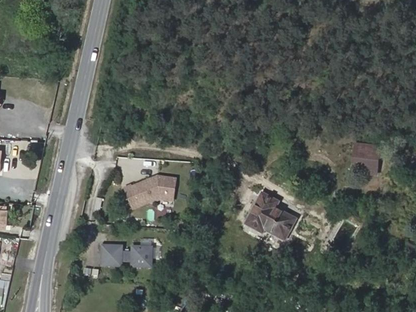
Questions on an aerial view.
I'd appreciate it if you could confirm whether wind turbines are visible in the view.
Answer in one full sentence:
No, I can't see a single wind turbine in this photo.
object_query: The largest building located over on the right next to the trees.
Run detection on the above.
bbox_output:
[241,186,302,252]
